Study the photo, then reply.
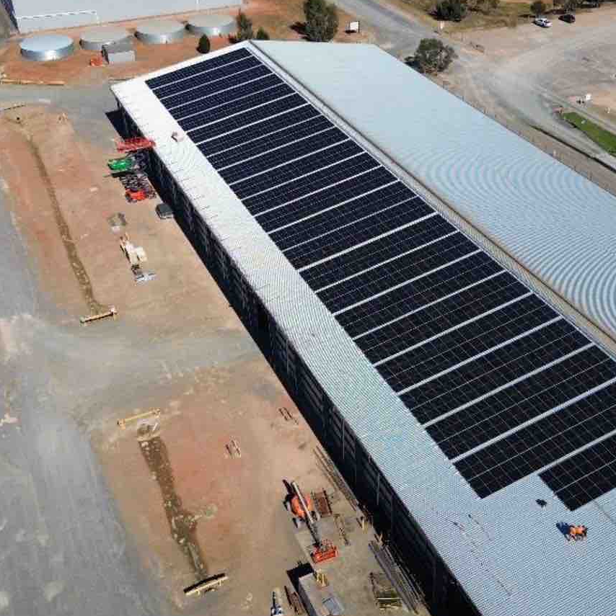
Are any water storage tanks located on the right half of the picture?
No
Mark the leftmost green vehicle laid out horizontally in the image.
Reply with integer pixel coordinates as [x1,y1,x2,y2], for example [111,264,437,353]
[93,154,137,177]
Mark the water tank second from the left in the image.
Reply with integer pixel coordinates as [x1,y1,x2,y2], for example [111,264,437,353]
[80,28,132,52]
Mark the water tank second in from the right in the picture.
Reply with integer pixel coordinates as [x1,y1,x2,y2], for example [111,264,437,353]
[136,21,186,45]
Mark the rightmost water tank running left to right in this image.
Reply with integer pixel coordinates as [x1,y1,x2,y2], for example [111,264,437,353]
[188,17,236,38]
